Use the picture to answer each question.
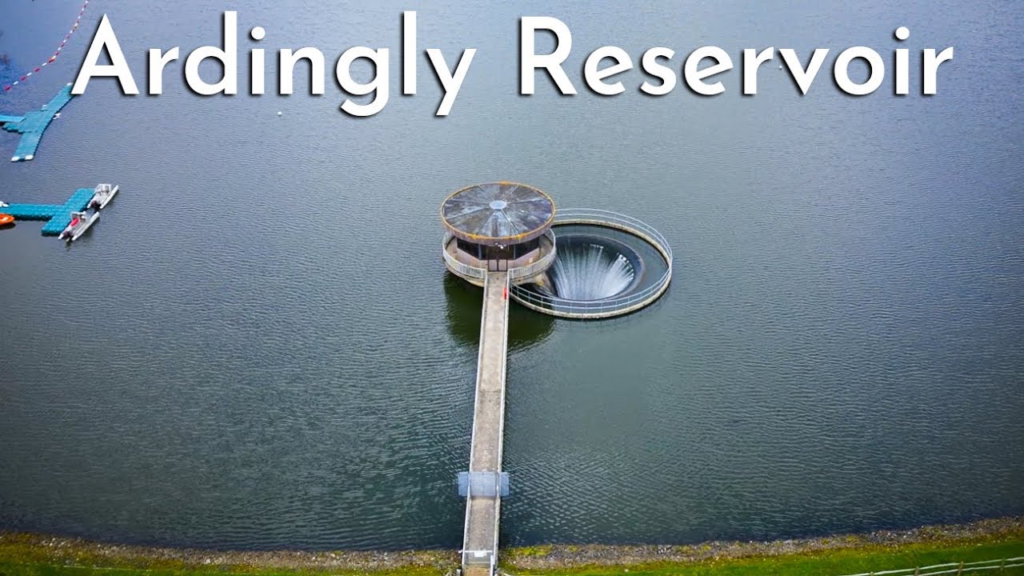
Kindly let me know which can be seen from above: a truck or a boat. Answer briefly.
boat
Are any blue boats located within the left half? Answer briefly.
No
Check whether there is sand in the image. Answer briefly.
No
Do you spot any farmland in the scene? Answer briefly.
No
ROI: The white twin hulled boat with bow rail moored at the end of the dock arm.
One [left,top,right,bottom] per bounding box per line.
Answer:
[84,179,119,212]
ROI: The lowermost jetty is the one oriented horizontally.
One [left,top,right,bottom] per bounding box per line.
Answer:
[0,188,97,237]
